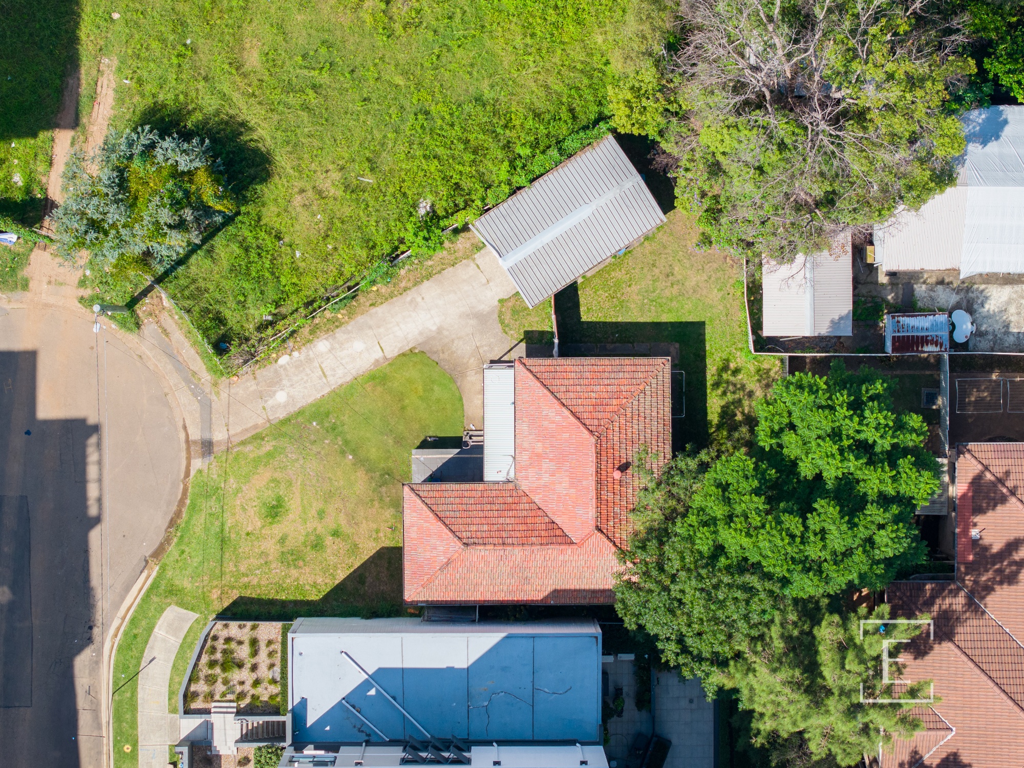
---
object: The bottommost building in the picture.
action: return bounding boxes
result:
[270,619,606,768]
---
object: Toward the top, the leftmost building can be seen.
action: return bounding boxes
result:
[469,134,667,309]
